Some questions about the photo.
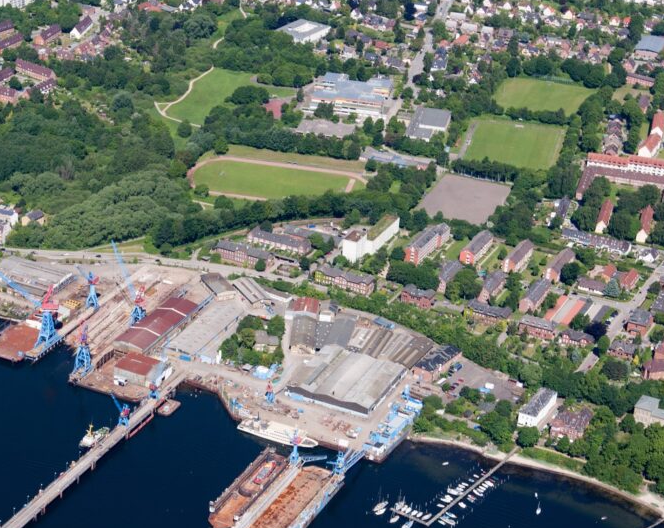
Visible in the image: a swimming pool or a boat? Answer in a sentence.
I can see a boat in this picture.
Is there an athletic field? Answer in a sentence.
Yes, there's an athletic field here.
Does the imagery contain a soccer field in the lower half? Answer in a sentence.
No, there is no soccer field in the lower half.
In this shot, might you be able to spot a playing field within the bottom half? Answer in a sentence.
No, there is no playing field within the bottom half.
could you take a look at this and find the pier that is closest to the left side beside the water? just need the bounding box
[0,316,39,364]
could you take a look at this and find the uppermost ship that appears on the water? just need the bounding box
[157,399,181,417]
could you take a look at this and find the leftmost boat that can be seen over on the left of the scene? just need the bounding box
[79,418,111,448]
